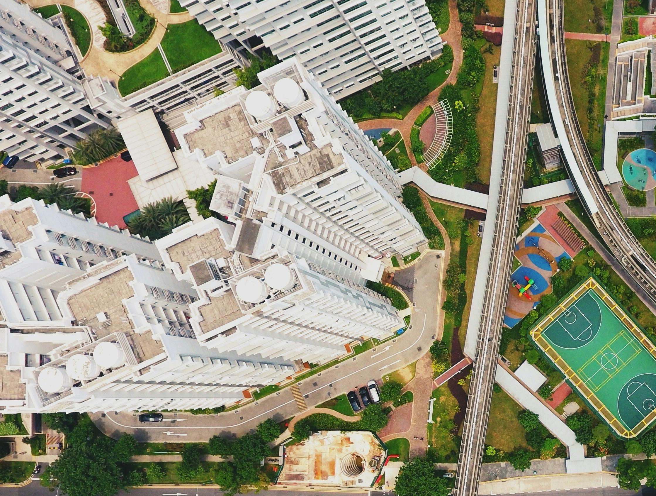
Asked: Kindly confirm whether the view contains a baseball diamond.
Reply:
No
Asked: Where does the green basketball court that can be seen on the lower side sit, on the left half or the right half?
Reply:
right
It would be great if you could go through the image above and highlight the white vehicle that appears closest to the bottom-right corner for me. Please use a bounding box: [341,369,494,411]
[367,380,381,402]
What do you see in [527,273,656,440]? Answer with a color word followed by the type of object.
green basketball court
